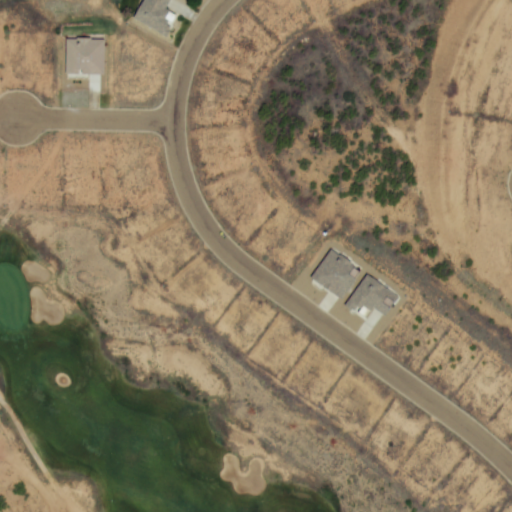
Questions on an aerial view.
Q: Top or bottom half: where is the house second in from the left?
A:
top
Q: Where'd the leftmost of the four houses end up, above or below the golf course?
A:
above it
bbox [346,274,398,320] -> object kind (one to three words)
house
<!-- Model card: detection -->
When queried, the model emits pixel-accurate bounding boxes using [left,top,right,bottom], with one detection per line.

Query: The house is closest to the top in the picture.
[135,0,182,37]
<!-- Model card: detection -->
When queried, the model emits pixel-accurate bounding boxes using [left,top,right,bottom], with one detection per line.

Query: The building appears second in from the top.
[66,36,104,78]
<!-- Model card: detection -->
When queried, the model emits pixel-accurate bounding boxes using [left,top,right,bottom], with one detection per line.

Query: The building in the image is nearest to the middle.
[310,248,361,298]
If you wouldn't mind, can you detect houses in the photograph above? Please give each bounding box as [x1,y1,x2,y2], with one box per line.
[135,0,182,37]
[66,36,104,78]
[346,274,398,320]
[310,248,361,298]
